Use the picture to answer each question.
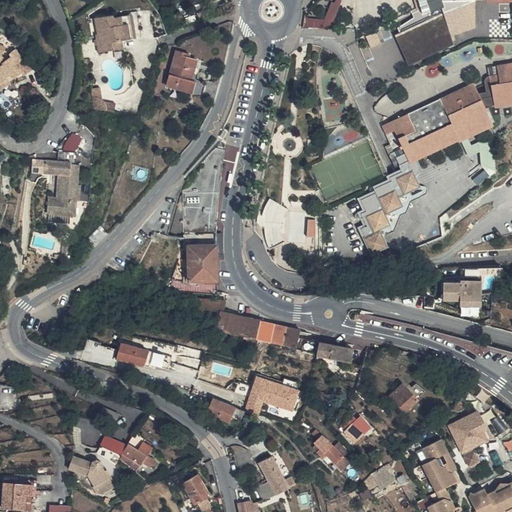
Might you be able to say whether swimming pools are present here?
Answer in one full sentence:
Yes, the image includes a swimming pool.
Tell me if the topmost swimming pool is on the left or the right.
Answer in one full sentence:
The topmost swimming pool is on the left side of the image.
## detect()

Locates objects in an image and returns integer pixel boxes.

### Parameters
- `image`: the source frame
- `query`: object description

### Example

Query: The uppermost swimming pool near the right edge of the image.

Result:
[482,274,496,292]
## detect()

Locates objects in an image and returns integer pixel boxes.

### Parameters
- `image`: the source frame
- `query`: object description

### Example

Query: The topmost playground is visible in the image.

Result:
[432,42,512,73]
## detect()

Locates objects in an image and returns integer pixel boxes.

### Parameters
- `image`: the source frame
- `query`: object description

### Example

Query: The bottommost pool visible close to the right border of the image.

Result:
[486,448,504,468]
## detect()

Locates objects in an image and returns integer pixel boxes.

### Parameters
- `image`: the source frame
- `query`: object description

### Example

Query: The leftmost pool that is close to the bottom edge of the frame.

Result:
[298,492,312,508]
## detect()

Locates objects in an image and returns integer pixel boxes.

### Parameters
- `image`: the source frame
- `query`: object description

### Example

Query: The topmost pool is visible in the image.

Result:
[100,58,124,92]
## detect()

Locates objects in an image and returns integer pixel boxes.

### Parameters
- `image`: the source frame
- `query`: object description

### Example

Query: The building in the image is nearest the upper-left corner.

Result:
[0,44,32,90]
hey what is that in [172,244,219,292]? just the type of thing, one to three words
house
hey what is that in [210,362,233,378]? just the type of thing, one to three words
swimming pool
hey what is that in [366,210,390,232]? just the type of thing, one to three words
building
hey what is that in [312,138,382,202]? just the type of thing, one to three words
sports court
